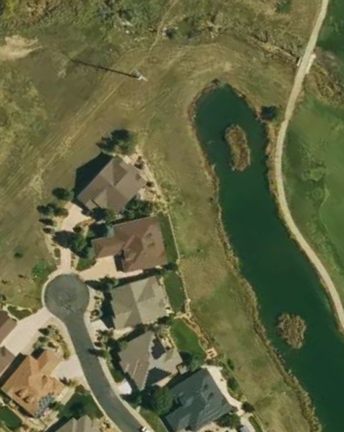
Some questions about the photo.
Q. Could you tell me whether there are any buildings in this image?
Yes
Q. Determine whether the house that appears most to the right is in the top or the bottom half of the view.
bottom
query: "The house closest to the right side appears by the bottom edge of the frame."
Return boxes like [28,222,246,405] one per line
[161,365,232,432]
